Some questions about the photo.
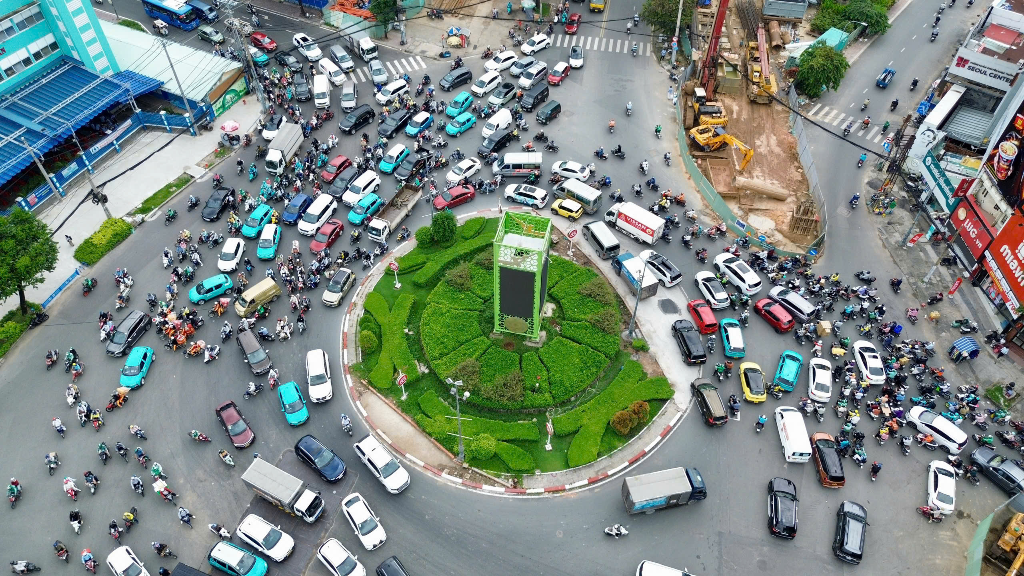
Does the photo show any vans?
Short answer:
Yes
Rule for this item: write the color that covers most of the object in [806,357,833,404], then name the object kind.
white car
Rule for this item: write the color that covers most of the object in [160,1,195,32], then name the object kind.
blue bus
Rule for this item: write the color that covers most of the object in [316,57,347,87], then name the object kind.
white van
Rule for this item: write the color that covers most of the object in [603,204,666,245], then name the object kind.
white truck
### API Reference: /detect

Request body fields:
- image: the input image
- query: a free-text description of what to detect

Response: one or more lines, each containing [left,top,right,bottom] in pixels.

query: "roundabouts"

[344,206,700,494]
